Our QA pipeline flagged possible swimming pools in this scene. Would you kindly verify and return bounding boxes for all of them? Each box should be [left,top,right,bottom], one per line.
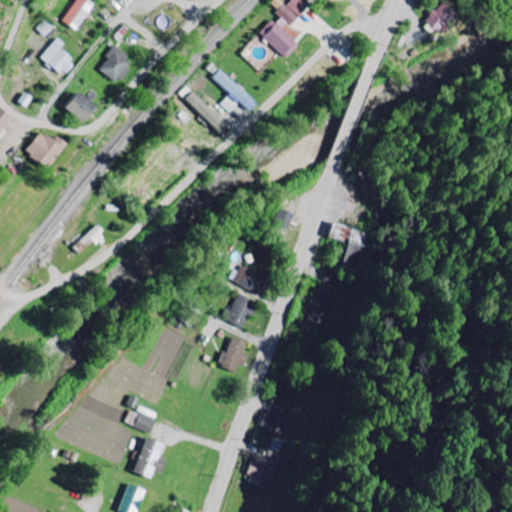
[241,38,274,72]
[154,14,170,30]
[230,250,242,263]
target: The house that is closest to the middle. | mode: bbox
[229,265,256,291]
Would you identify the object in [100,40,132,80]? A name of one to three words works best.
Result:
house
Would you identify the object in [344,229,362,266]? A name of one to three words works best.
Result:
building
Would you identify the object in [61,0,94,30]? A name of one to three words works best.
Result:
barn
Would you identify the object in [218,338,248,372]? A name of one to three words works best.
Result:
house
